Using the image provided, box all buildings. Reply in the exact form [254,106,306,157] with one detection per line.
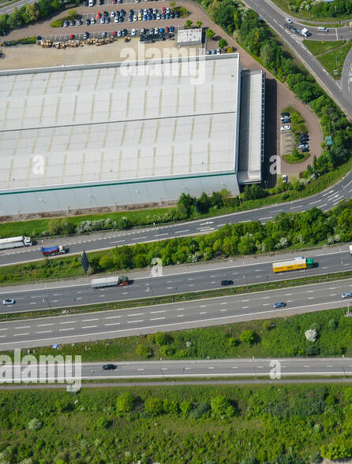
[0,52,241,212]
[178,27,203,47]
